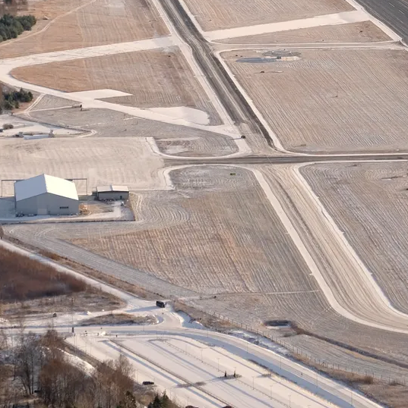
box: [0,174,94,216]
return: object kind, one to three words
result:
hangar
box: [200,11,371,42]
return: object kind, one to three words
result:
runway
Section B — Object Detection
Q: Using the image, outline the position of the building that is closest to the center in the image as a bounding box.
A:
[97,185,129,199]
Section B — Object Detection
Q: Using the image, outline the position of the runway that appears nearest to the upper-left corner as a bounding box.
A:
[1,34,178,65]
